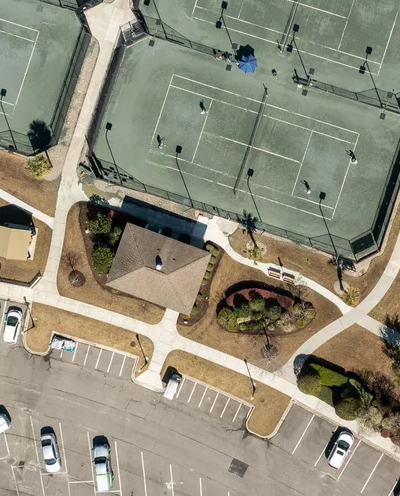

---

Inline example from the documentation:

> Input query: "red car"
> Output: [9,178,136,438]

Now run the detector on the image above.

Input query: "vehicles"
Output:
[327,429,353,470]
[0,414,11,434]
[41,431,62,471]
[165,371,182,396]
[4,306,24,343]
[53,335,67,350]
[92,441,113,492]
